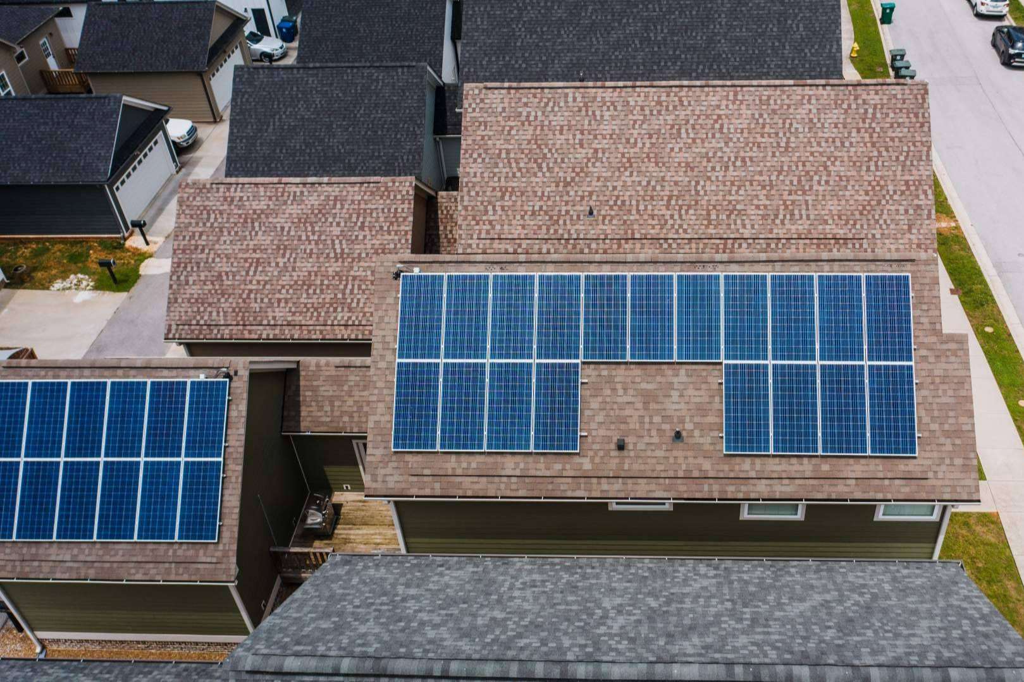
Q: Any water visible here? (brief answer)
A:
No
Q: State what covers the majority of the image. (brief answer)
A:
buildings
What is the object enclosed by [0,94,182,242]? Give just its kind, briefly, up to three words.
building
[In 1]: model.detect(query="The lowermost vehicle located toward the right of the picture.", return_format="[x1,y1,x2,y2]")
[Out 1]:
[990,17,1024,64]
